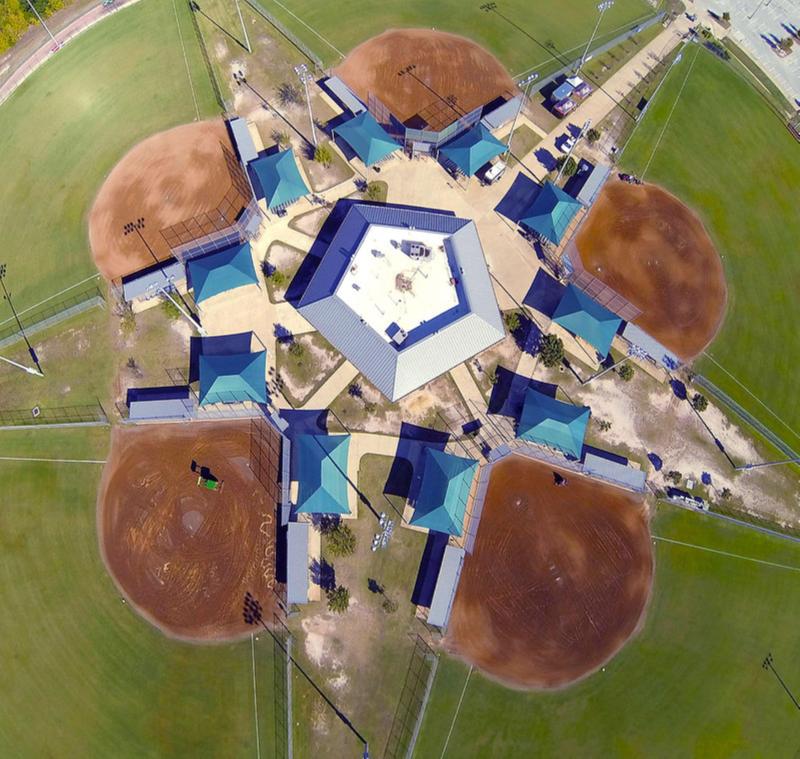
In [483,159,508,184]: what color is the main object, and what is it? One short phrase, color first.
white vehicle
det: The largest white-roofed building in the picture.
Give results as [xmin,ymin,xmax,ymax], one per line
[298,205,505,402]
